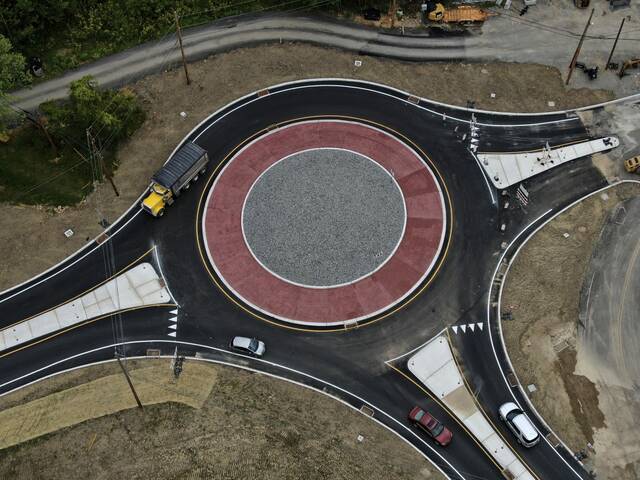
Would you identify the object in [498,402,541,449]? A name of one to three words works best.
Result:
car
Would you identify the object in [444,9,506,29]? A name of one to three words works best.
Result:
trailer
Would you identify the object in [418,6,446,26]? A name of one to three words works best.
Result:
work vehicle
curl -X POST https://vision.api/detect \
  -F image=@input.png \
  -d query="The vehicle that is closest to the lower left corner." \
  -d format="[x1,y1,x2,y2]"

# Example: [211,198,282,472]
[230,336,266,358]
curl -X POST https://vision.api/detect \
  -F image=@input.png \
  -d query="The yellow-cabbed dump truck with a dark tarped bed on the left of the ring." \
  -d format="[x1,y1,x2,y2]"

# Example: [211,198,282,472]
[141,143,210,218]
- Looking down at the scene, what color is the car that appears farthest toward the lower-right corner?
white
